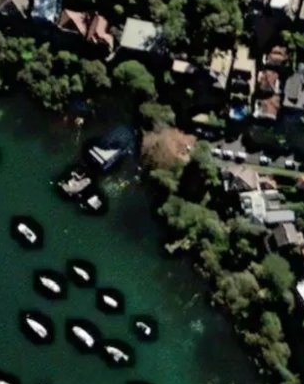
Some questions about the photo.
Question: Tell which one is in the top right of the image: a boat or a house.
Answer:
house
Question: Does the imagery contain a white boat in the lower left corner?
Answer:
Yes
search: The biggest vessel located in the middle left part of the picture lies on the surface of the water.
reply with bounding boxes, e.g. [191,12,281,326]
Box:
[62,172,91,193]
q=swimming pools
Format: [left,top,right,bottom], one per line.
[228,106,248,119]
